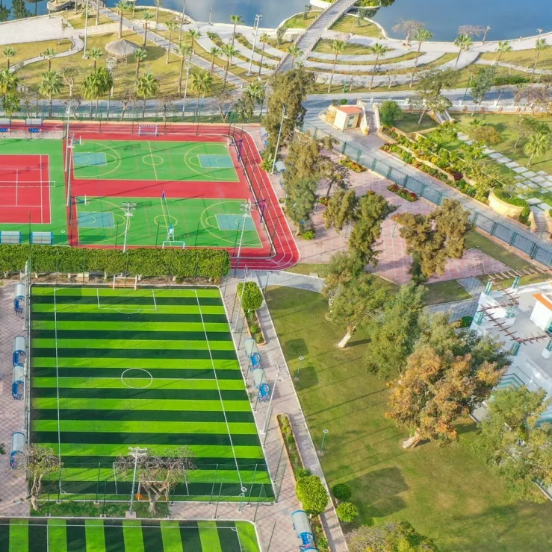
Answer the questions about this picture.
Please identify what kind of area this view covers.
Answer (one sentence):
The picture captures a sports ground.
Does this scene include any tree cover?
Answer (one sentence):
Yes, the picture does contain tree cover.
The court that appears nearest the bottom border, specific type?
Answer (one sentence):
What you see as the court that appears nearest the bottom border is a basketball court.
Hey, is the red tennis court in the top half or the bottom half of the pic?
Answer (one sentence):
It is in the top half that the red tennis court appears.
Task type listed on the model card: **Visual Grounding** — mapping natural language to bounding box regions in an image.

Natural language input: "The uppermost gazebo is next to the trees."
[105,37,142,64]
